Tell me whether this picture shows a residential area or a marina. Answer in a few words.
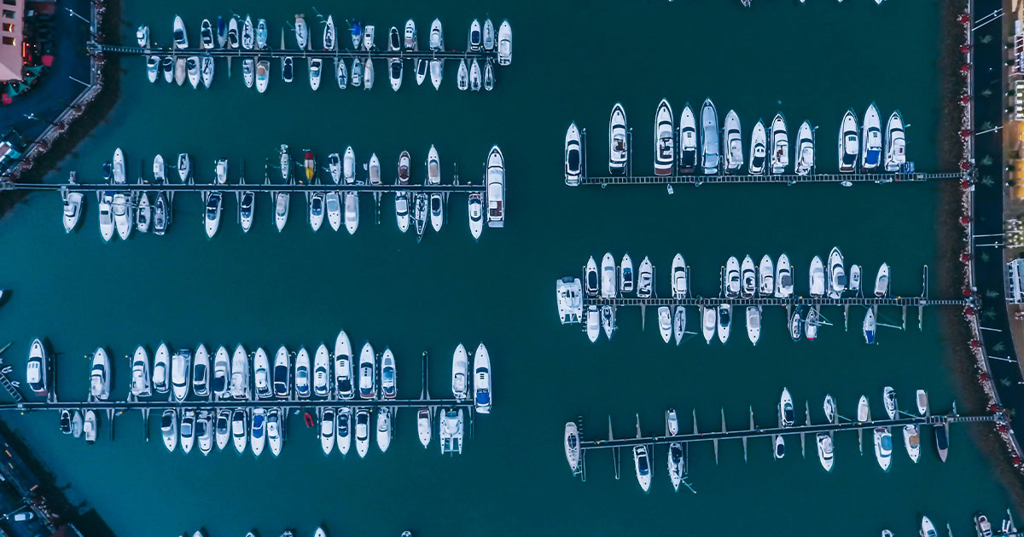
marina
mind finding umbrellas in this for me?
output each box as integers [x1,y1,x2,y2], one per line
[43,56,56,65]
[3,94,16,103]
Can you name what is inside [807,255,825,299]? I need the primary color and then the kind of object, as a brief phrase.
white boat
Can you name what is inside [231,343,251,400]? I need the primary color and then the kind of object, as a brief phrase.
white boat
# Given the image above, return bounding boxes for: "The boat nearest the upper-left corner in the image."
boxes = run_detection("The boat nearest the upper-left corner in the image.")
[137,22,151,47]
